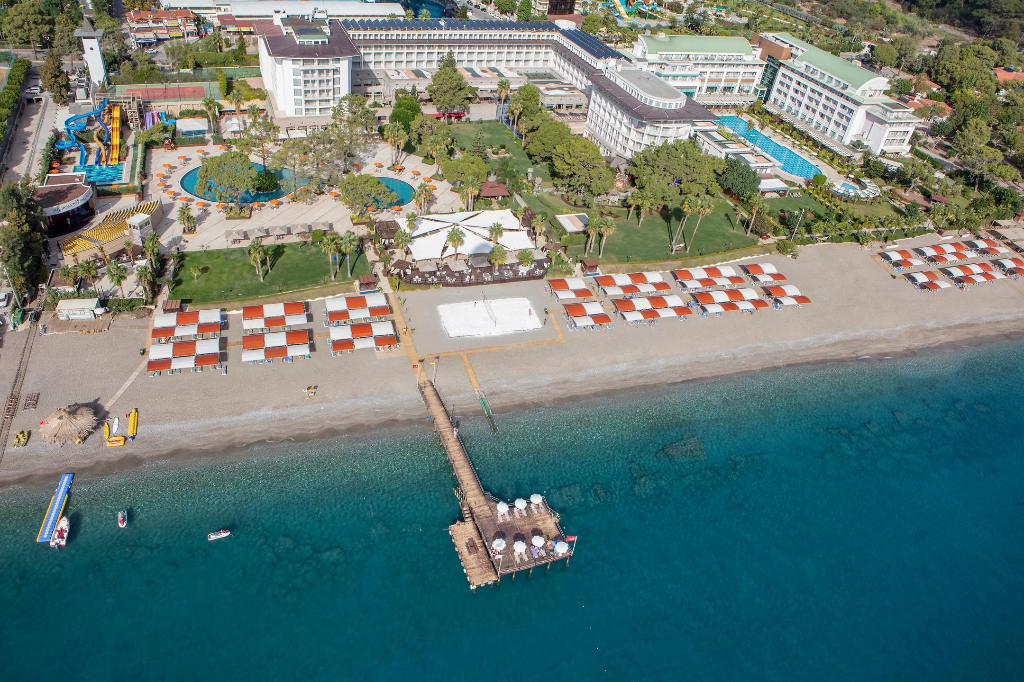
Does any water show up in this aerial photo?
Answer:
Yes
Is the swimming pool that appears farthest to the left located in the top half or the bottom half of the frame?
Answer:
top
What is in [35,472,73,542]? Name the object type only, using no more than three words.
pier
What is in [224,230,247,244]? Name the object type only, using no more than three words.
umbrella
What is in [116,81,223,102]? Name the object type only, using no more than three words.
tennis court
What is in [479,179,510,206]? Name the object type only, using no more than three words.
shed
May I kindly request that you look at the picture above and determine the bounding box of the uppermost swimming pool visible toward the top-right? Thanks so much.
[715,115,823,178]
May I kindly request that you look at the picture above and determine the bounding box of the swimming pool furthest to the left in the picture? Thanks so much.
[73,162,124,184]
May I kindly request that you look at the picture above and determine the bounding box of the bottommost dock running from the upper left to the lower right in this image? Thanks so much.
[418,376,573,581]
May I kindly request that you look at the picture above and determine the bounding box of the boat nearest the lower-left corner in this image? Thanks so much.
[48,515,71,550]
